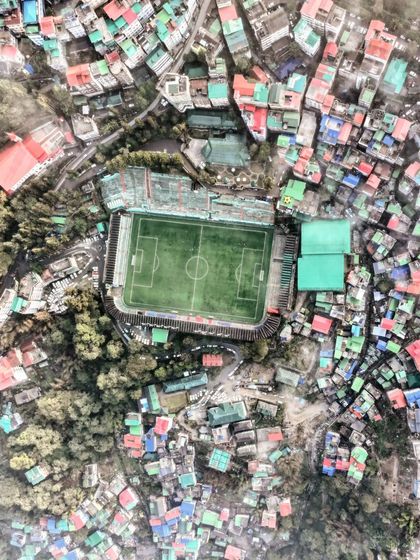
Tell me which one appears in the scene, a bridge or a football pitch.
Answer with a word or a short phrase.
football pitch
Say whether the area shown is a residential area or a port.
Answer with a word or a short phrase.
residential area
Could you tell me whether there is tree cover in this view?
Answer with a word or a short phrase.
Yes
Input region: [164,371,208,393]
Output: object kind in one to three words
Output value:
building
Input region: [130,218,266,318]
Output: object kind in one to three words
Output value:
soccer field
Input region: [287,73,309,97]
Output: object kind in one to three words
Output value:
building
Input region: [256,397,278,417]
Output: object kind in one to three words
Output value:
house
